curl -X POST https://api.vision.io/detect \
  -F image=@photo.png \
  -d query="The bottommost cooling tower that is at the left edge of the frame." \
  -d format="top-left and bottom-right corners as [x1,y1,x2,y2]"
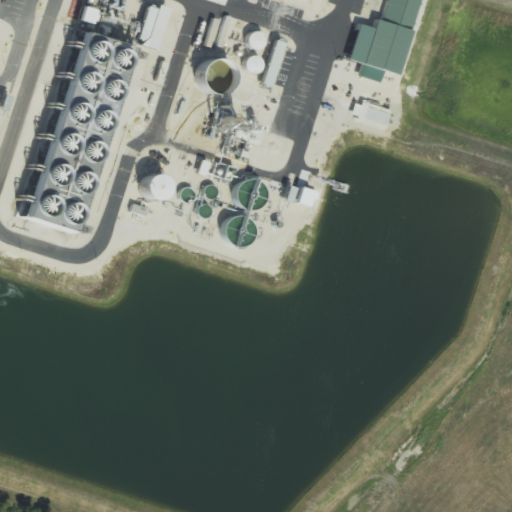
[17,31,138,230]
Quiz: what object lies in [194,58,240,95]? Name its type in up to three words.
storage tank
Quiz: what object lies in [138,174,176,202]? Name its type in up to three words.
storage tank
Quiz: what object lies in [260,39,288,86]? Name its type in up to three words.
shed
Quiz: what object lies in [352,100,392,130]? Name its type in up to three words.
building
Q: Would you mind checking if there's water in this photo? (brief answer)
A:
Yes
